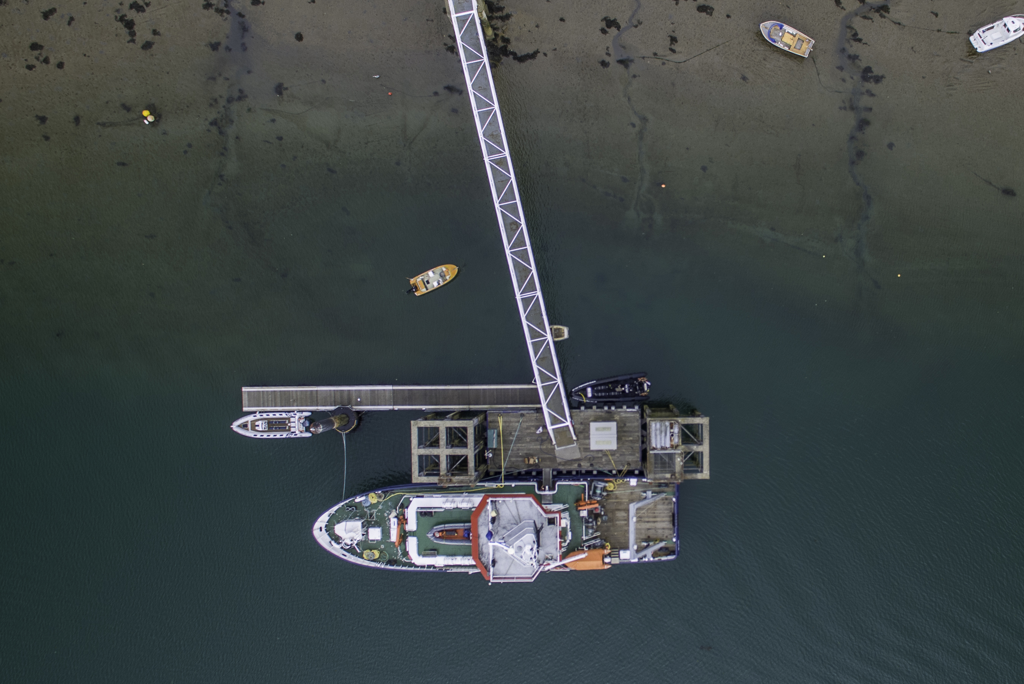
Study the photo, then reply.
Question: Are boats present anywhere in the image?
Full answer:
Yes, there's a boat here.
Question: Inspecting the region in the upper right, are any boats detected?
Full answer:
Yes, you'll find a boat in the upper right.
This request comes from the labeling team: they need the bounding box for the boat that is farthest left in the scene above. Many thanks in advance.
[230,410,311,439]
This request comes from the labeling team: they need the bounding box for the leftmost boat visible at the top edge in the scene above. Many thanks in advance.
[760,21,814,59]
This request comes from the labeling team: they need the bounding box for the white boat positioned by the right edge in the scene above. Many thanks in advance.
[968,14,1024,53]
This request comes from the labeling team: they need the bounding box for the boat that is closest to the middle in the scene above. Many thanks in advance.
[549,325,569,341]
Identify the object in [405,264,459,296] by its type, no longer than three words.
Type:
boat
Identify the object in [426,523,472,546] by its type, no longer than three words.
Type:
boat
